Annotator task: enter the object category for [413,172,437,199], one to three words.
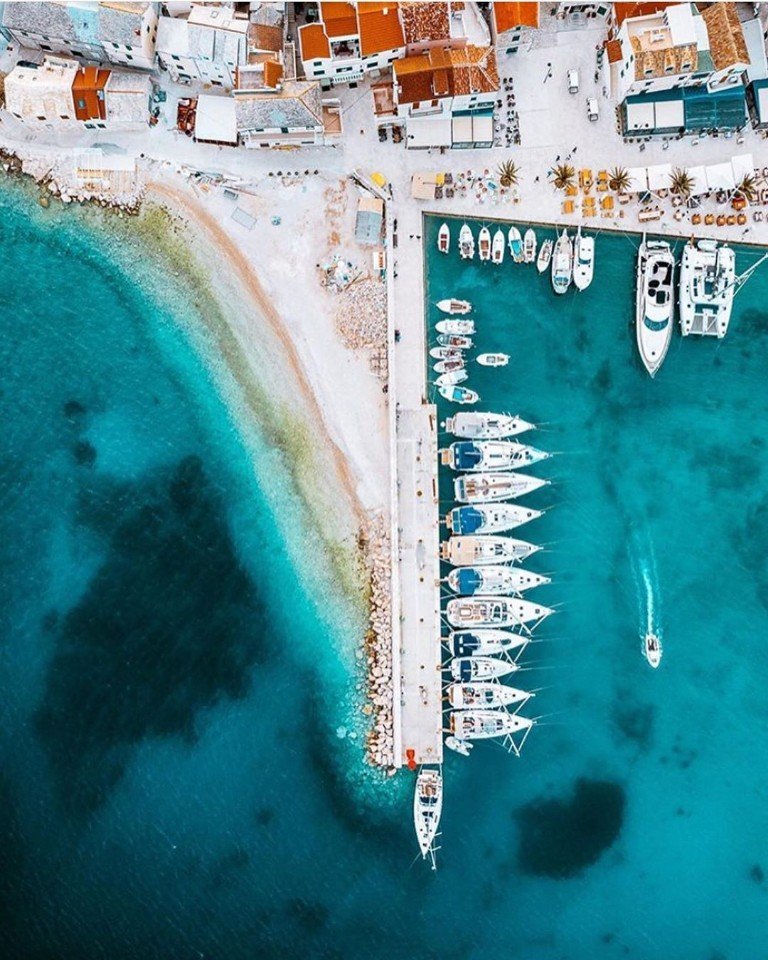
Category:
umbrella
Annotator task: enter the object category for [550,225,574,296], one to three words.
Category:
boat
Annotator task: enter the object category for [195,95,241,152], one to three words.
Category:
building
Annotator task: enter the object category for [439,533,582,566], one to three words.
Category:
boat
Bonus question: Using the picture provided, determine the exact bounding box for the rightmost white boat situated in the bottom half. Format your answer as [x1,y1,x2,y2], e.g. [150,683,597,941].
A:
[645,632,660,668]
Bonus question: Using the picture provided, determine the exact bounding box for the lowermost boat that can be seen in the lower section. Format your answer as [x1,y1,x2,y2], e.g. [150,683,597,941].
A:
[409,763,446,884]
